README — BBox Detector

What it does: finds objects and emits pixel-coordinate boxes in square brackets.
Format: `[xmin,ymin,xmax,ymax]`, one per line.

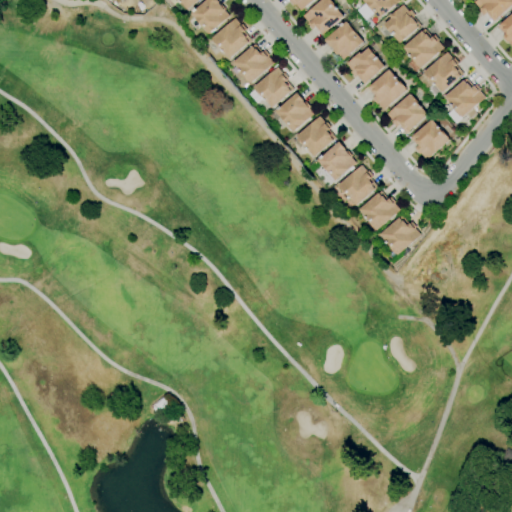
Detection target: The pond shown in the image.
[92,421,180,512]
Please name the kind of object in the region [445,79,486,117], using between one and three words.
house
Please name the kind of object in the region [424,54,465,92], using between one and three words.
house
